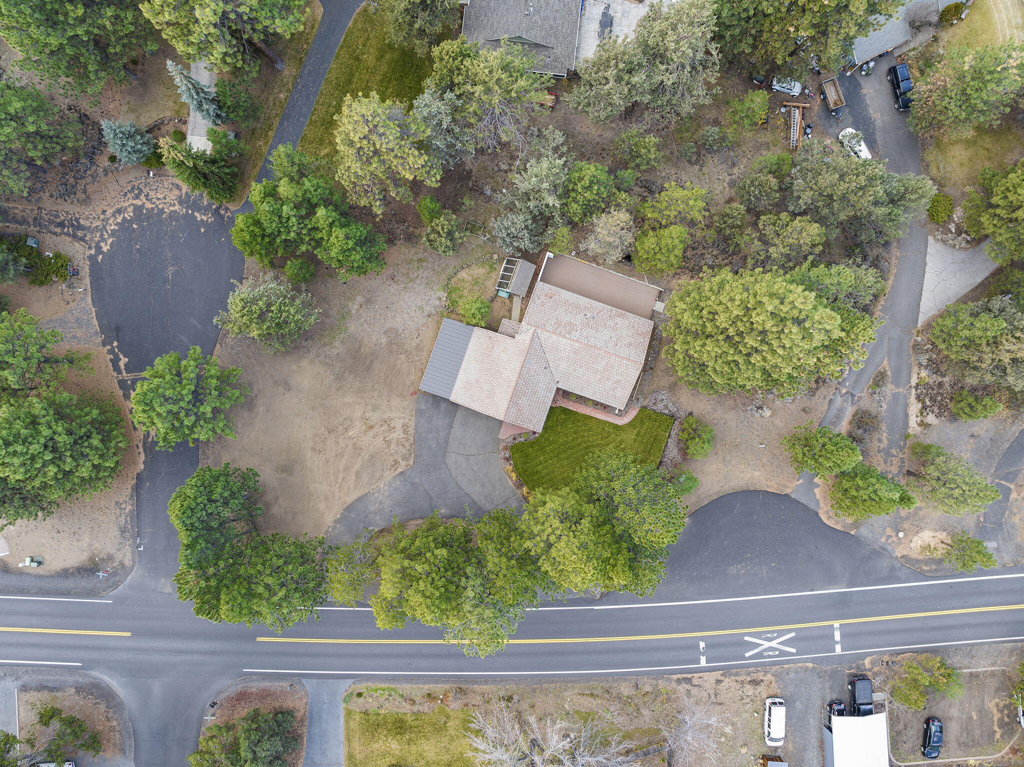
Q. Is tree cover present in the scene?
Yes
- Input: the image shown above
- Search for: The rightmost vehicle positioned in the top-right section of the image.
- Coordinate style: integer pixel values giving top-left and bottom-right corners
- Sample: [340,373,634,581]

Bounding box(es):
[886,61,913,113]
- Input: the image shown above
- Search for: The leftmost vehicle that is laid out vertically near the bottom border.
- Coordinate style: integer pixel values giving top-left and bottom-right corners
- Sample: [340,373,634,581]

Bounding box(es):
[763,694,787,745]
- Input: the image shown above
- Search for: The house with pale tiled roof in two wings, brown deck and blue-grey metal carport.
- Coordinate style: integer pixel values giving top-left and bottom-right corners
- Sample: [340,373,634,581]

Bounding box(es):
[419,249,667,433]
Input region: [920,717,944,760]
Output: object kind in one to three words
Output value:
car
